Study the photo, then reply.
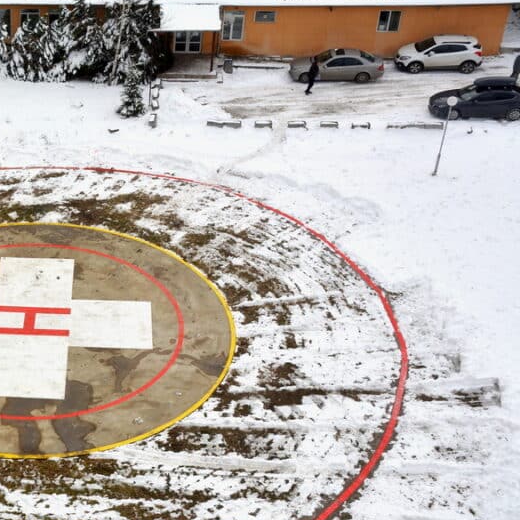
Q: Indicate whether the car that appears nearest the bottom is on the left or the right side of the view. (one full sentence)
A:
The car that appears nearest the bottom is on the right side of the image.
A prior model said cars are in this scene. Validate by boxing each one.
[289,46,385,82]
[395,33,485,73]
[430,82,520,120]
